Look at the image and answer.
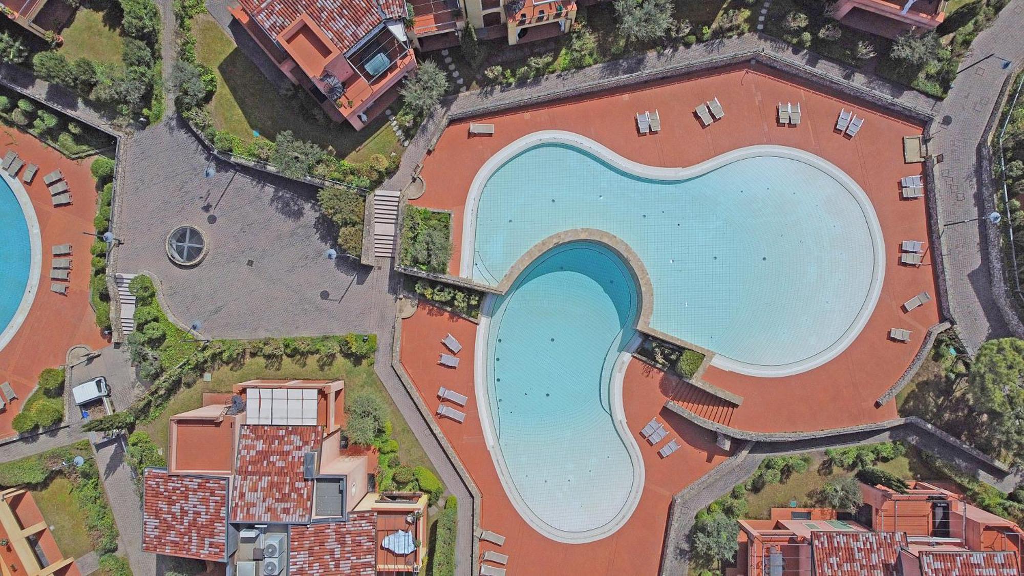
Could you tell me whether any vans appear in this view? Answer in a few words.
Yes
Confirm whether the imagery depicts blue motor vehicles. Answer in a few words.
No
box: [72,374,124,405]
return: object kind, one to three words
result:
van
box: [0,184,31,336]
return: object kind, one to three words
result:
swimming pool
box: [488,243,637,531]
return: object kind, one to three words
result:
swimming pool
